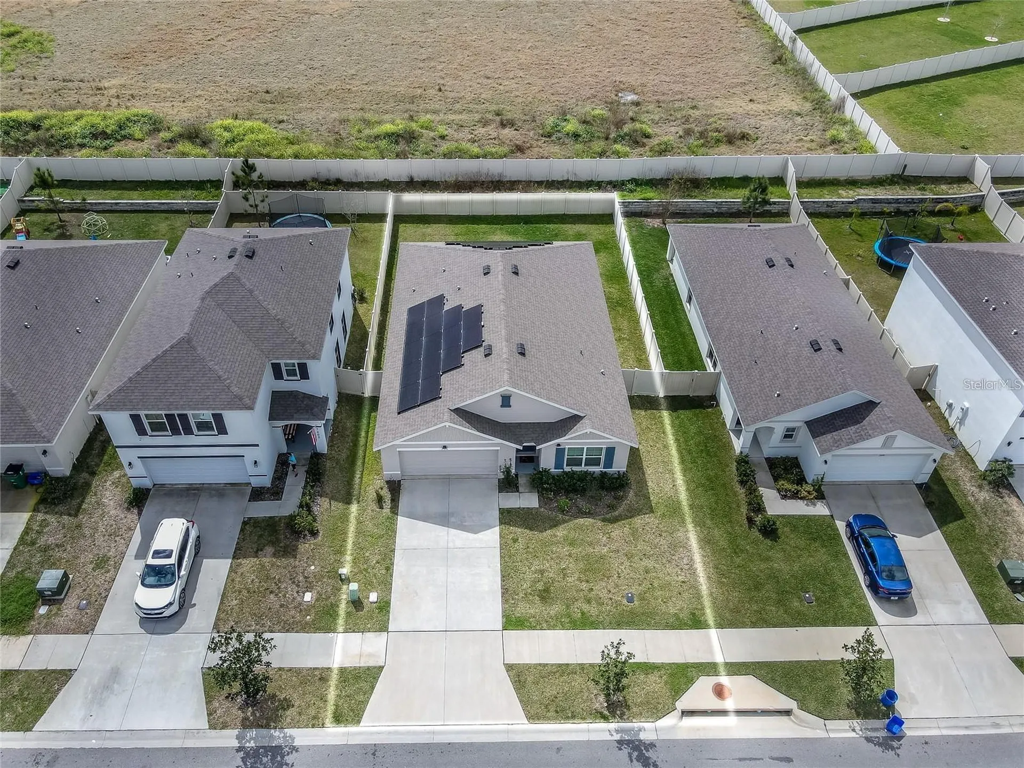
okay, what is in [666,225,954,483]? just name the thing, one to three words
house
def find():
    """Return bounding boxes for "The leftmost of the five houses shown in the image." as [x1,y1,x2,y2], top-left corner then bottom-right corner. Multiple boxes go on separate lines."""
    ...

[0,242,167,476]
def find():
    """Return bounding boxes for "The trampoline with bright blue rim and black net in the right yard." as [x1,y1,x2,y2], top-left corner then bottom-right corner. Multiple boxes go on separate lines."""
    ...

[872,214,949,277]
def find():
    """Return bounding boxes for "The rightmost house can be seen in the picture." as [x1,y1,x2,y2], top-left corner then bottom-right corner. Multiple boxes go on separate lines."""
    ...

[884,244,1024,469]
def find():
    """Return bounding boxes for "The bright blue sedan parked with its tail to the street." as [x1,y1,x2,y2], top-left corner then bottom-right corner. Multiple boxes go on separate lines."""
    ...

[846,509,921,597]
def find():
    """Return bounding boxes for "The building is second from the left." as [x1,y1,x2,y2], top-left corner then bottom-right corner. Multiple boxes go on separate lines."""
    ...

[89,229,354,487]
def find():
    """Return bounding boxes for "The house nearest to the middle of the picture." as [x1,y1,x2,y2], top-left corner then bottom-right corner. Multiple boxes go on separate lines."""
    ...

[374,243,638,477]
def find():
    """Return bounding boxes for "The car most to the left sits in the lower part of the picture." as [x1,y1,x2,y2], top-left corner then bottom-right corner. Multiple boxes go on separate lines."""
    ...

[129,521,199,619]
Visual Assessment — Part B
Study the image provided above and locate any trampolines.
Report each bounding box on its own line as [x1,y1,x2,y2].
[872,214,949,277]
[265,194,331,230]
